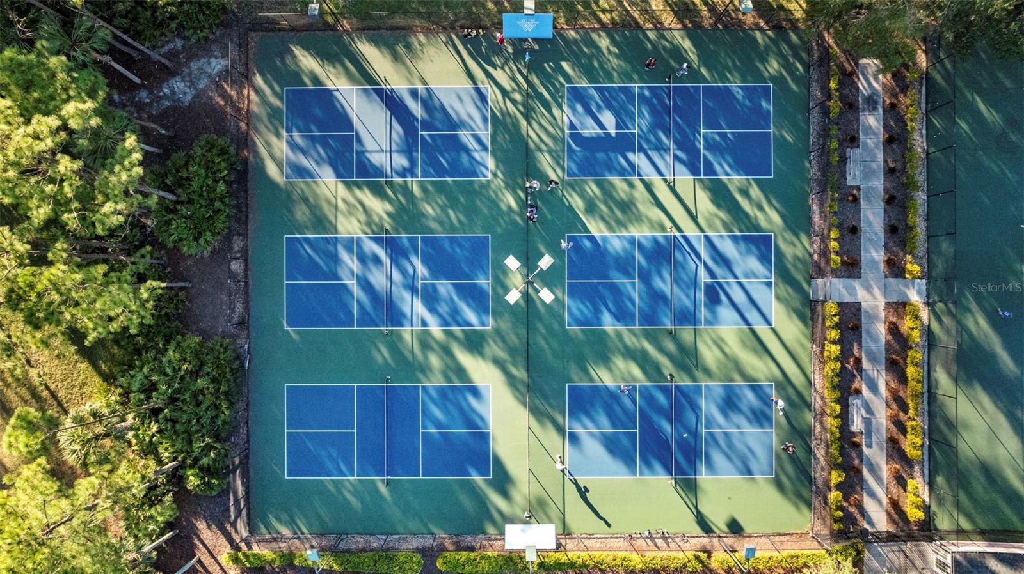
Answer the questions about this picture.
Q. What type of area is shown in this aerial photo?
sports ground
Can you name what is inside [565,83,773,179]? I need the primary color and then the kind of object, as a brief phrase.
blue sports court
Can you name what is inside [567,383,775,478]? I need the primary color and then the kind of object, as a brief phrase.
blue sports court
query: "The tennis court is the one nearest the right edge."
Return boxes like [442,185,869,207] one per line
[928,0,1024,533]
